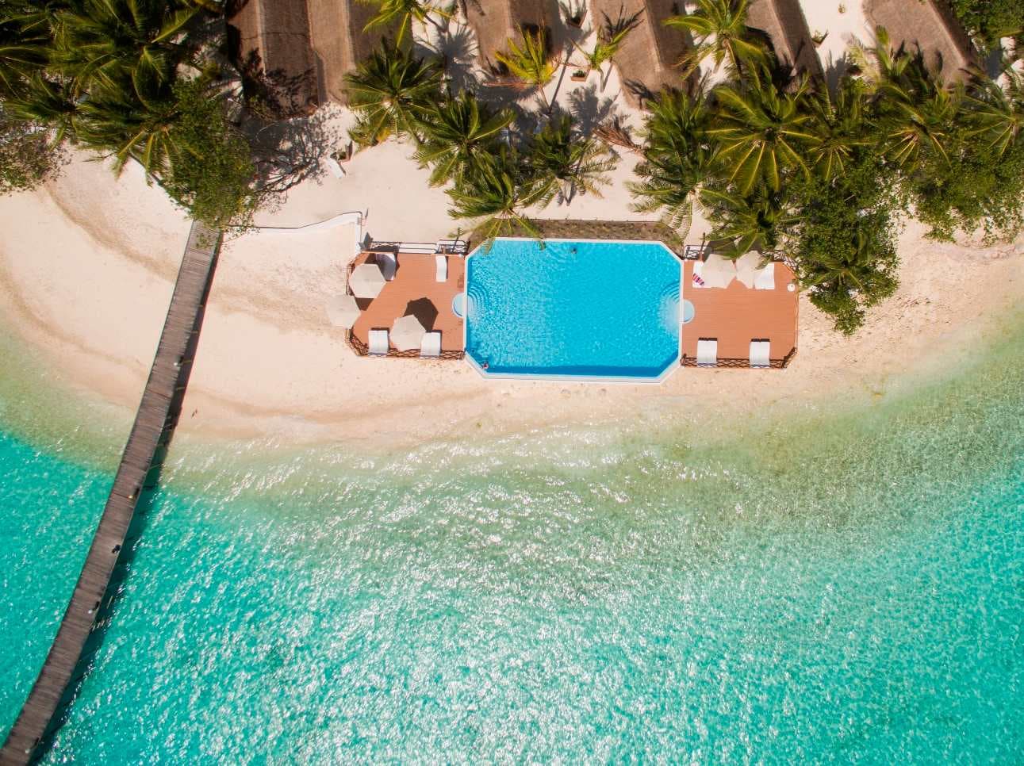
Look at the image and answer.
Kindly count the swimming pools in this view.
1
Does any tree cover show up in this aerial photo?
Yes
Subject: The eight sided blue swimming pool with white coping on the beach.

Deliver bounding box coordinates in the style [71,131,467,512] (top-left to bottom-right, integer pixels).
[452,238,694,385]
